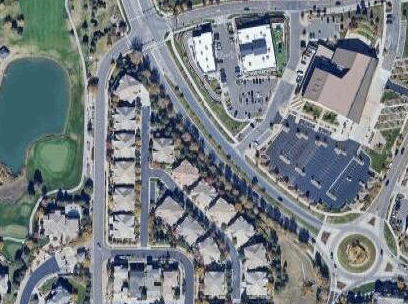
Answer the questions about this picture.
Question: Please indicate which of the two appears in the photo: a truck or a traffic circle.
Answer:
traffic circle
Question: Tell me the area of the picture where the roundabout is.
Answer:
bottom right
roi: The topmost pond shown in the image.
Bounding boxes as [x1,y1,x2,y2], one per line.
[0,58,68,178]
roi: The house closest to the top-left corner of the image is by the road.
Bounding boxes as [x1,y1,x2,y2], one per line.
[111,73,143,104]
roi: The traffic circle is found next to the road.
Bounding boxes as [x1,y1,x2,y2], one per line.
[318,211,397,293]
